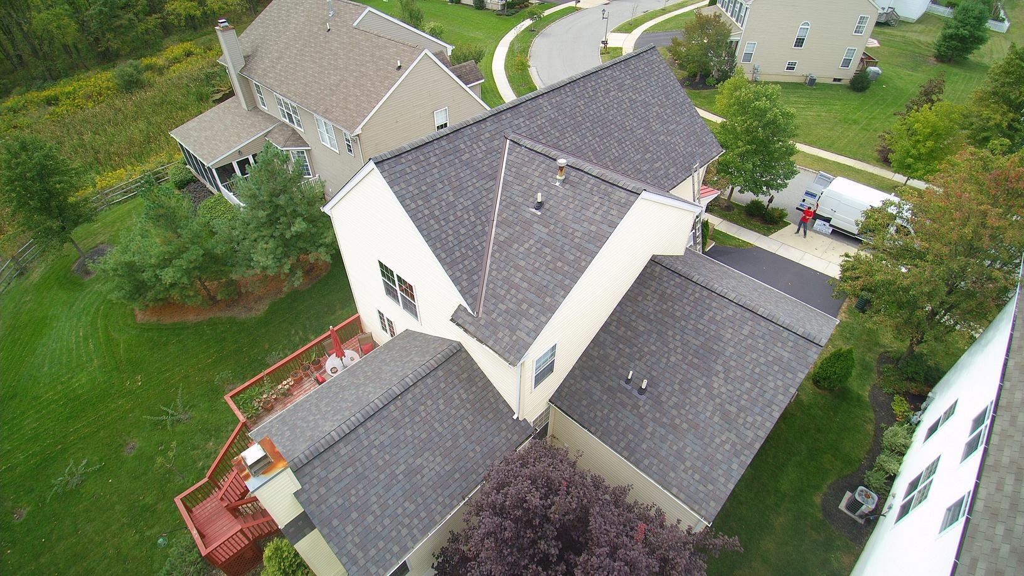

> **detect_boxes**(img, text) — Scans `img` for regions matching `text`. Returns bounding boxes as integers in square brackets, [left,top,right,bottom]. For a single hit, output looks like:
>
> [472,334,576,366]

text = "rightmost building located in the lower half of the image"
[856,253,1024,576]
